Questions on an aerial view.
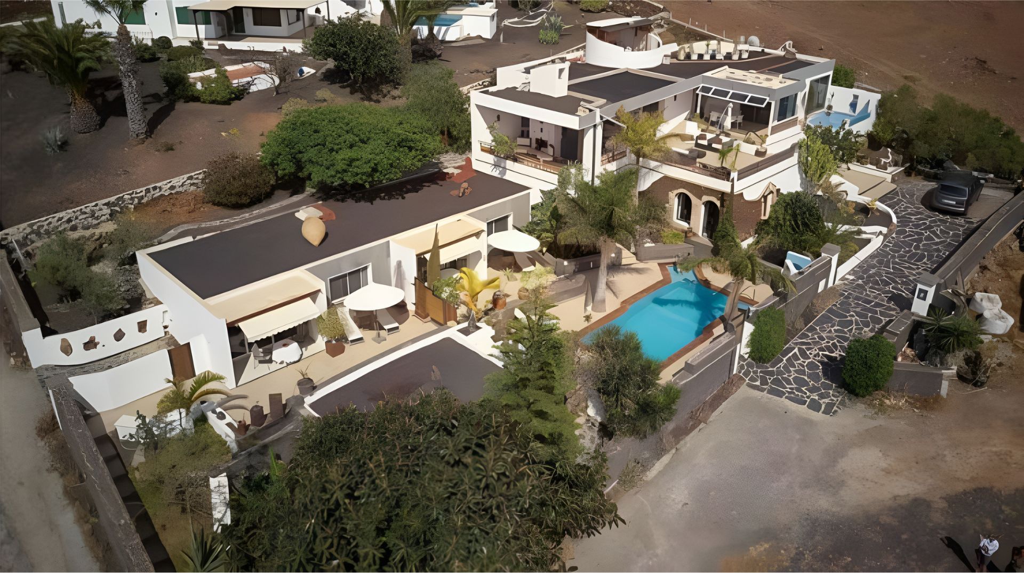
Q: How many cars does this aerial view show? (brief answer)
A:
1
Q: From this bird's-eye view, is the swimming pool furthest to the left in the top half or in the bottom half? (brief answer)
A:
top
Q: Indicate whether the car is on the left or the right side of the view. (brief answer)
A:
right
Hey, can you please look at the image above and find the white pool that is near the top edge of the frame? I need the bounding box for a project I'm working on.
[411,0,499,40]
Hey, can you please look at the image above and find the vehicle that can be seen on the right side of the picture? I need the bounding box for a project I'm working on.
[932,166,987,209]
